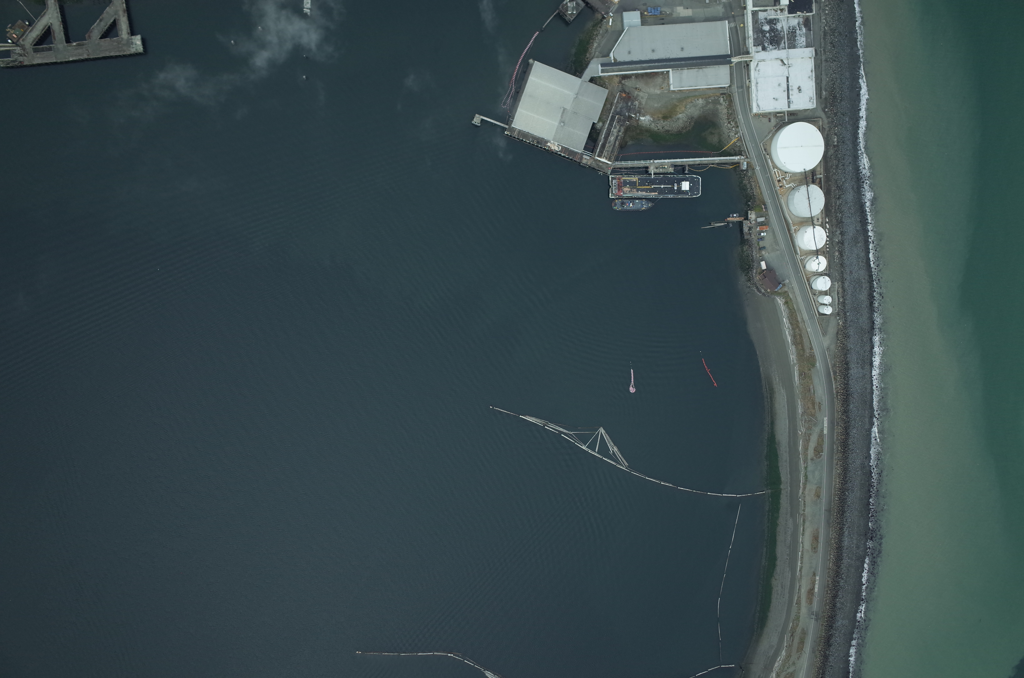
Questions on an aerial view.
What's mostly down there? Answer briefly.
water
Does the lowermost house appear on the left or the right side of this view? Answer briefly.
right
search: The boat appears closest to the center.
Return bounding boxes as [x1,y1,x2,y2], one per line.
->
[611,198,654,211]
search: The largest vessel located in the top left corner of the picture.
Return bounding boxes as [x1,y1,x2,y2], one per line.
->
[6,20,27,42]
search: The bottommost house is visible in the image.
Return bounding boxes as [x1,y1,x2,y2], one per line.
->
[757,269,779,292]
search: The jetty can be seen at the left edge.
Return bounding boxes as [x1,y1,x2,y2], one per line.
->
[16,0,143,65]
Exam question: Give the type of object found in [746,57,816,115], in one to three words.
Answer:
building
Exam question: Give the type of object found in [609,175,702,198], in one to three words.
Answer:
ship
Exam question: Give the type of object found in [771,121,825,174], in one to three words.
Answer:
storage tank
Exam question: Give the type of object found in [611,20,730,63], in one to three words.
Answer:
building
